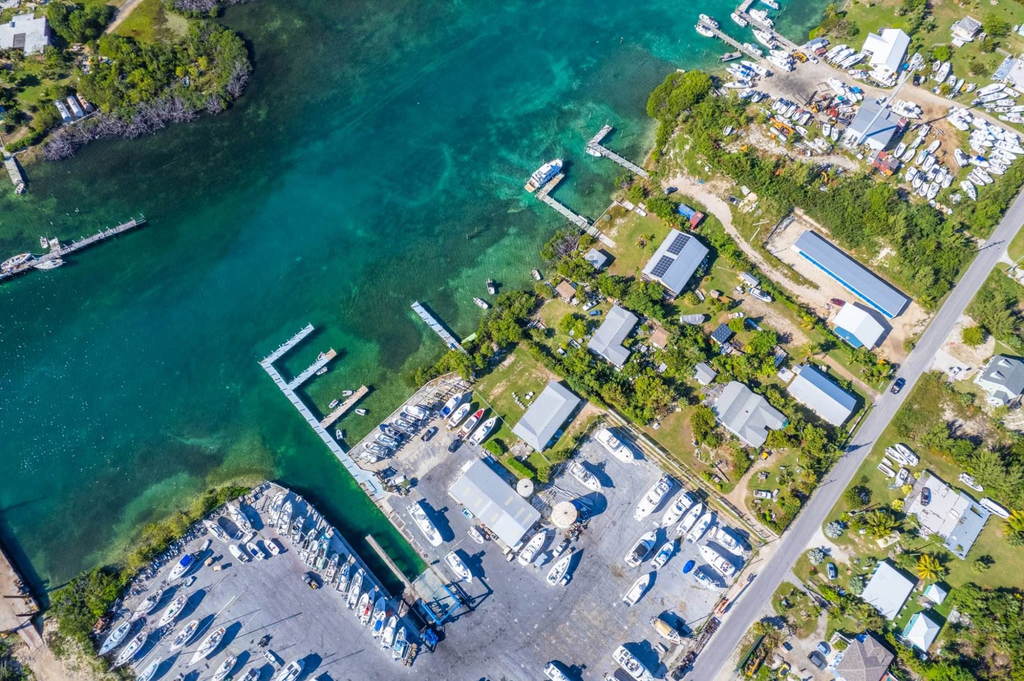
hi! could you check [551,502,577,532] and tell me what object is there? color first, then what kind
white water tank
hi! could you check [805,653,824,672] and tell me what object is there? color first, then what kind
gray car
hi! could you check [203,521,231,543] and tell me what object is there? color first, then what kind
white boat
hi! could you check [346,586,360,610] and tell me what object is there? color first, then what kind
white boat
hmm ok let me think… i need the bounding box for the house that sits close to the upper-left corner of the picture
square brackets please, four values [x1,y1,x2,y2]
[0,13,54,64]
